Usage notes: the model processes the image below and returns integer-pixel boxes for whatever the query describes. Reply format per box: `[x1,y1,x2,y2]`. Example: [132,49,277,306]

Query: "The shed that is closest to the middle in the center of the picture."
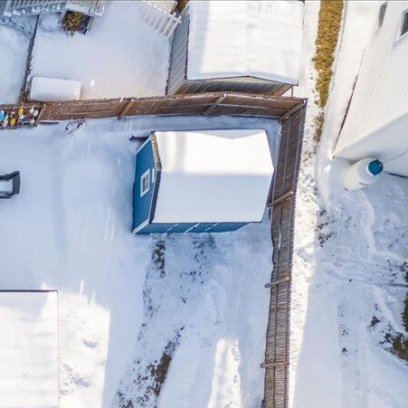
[135,129,273,233]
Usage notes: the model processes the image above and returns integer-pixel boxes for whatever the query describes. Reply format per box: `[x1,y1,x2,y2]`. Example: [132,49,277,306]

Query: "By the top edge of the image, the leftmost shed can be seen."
[168,0,302,97]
